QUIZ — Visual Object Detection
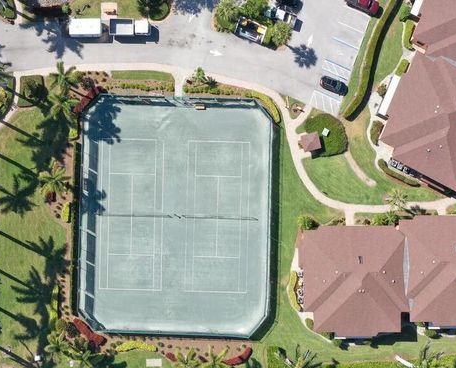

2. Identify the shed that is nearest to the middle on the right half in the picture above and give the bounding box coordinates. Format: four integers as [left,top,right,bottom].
[299,133,321,152]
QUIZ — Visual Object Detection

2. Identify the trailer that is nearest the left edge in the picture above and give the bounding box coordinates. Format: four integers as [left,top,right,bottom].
[69,19,107,39]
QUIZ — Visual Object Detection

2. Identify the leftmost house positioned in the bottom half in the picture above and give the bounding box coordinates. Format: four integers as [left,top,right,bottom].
[300,226,410,339]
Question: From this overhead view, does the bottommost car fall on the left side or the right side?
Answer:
right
